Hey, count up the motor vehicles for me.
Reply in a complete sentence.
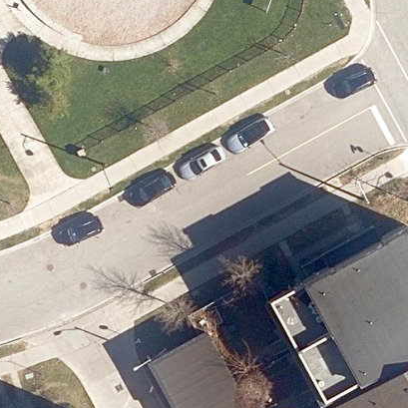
There are 5 motor vehicles in the image.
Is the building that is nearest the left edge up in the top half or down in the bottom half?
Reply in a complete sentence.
The bottom half of the photo is where the building that is nearest the left edge is.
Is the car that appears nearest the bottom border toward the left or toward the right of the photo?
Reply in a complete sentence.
You can find the car that appears nearest the bottom border on the left side of the picture.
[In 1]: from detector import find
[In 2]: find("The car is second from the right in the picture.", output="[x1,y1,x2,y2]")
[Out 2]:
[229,117,277,153]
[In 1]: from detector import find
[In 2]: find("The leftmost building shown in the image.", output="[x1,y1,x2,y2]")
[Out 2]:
[147,330,247,408]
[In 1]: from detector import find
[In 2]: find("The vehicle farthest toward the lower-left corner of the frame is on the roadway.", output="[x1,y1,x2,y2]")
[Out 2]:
[57,213,105,248]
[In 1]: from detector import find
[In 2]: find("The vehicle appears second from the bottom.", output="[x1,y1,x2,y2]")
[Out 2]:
[130,172,178,208]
